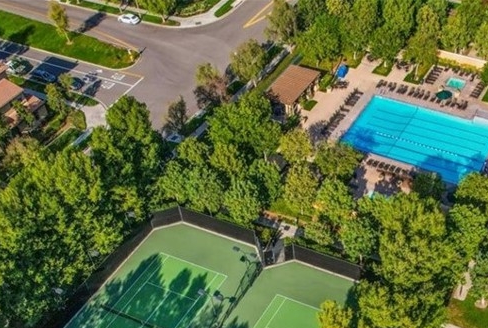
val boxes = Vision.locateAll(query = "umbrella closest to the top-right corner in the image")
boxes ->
[433,90,454,107]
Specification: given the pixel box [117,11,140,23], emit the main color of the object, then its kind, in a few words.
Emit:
white vehicle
